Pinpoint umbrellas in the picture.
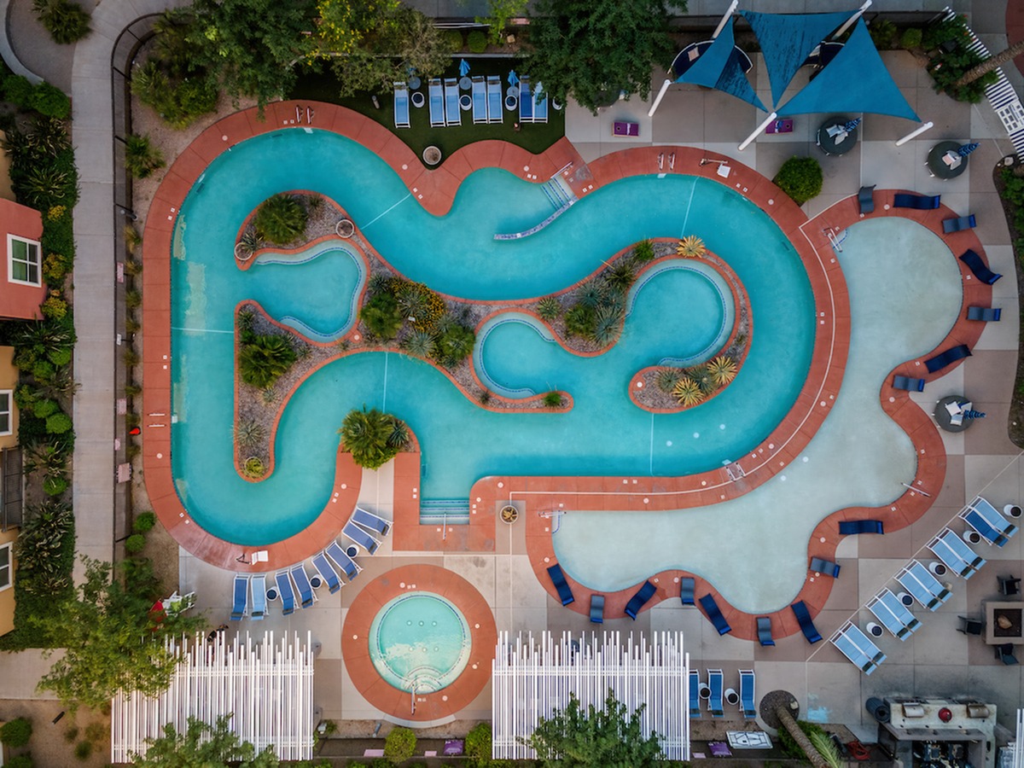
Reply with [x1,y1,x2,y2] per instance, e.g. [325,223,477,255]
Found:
[836,116,861,136]
[954,408,986,419]
[506,68,521,98]
[456,59,472,91]
[947,143,978,162]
